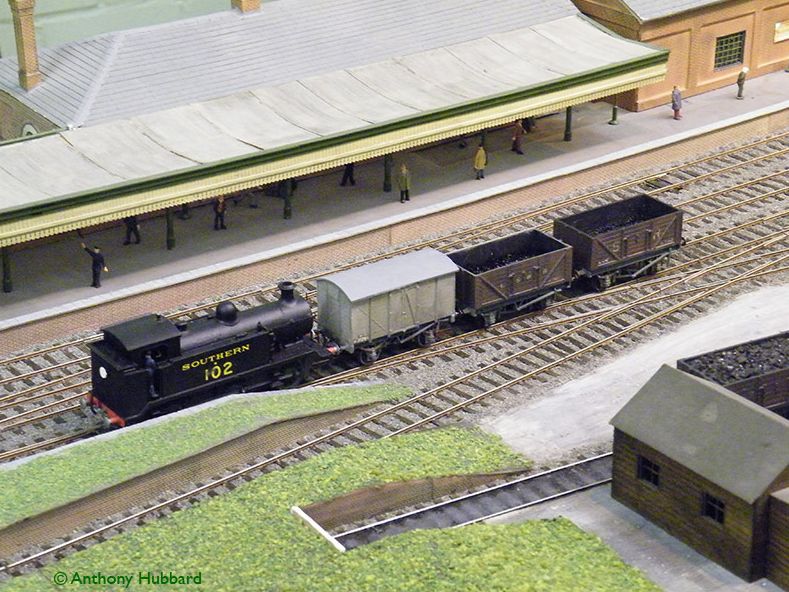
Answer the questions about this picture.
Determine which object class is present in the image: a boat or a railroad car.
railroad car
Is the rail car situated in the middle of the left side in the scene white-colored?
No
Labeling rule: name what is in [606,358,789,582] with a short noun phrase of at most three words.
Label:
shed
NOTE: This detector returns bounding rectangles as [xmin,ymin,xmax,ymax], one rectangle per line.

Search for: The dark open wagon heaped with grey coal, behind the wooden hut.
[683,331,789,419]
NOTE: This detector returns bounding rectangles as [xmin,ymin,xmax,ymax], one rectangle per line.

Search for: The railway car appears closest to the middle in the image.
[444,226,576,327]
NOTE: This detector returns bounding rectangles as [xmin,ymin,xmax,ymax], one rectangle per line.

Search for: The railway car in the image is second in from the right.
[556,193,684,290]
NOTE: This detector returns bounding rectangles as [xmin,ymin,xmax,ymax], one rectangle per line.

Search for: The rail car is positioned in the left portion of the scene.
[82,281,340,426]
